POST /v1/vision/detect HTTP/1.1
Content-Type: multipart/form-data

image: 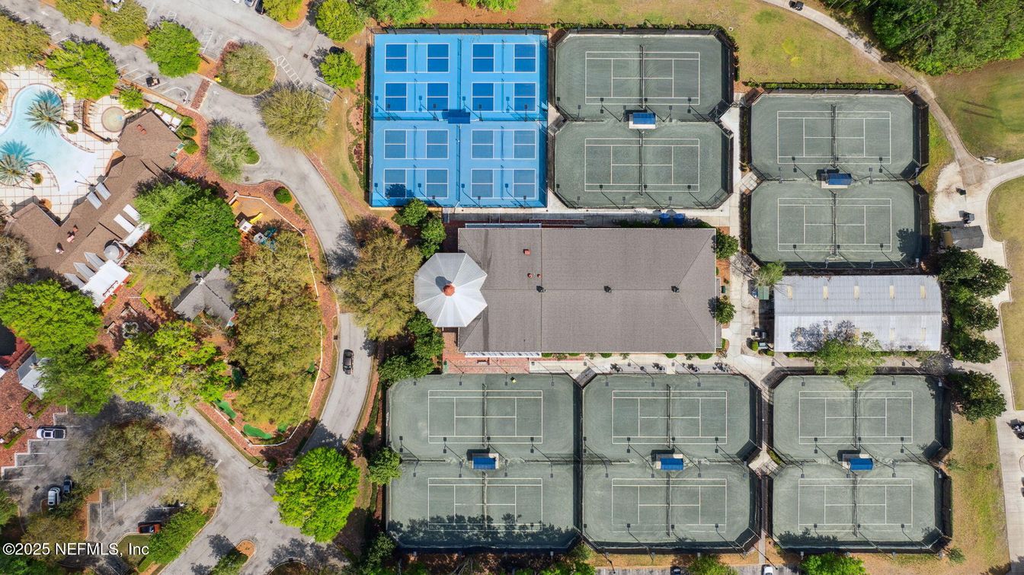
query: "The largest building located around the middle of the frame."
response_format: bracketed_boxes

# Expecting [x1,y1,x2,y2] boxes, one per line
[414,222,723,358]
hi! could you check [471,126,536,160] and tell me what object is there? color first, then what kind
blue sports court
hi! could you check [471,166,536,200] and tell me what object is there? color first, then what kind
blue sports court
